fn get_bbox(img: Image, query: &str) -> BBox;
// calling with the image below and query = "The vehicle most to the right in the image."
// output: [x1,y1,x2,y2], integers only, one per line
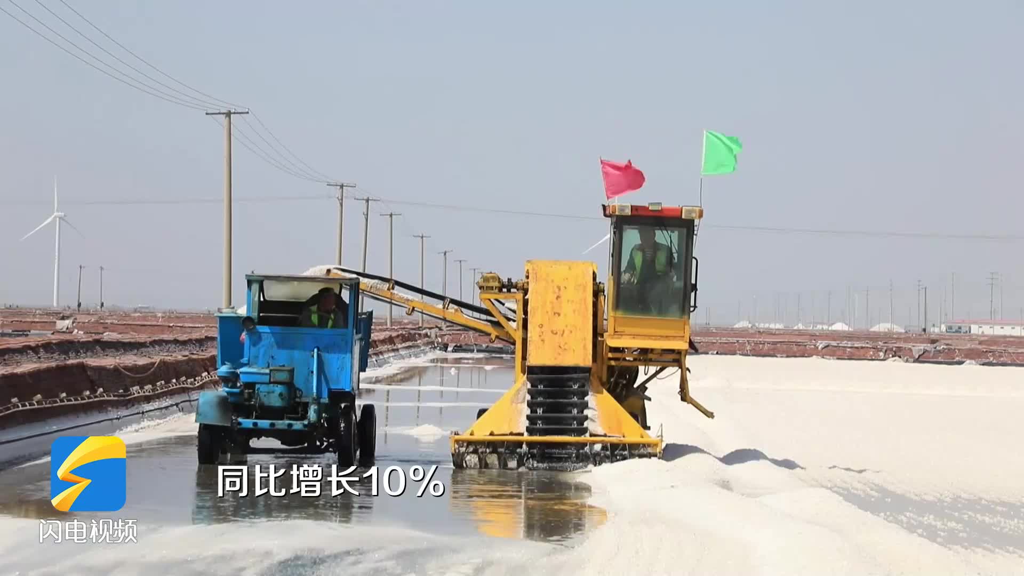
[326,203,716,469]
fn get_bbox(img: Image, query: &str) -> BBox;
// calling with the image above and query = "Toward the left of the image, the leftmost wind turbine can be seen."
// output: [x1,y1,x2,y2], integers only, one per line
[29,171,84,310]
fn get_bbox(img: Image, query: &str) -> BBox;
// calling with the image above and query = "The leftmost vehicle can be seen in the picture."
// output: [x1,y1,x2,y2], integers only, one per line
[192,269,383,468]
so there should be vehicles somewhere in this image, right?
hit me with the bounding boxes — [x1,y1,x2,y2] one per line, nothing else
[192,269,383,468]
[326,203,716,469]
